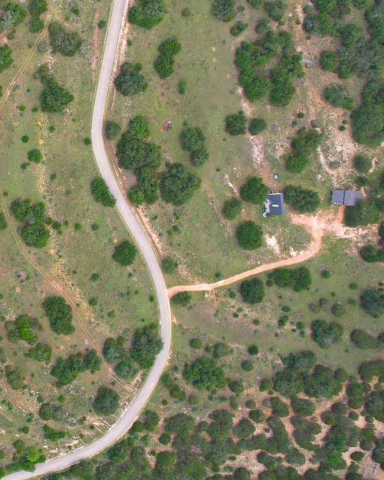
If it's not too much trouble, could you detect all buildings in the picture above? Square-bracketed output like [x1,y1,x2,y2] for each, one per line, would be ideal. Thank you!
[265,192,284,216]
[328,190,360,206]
